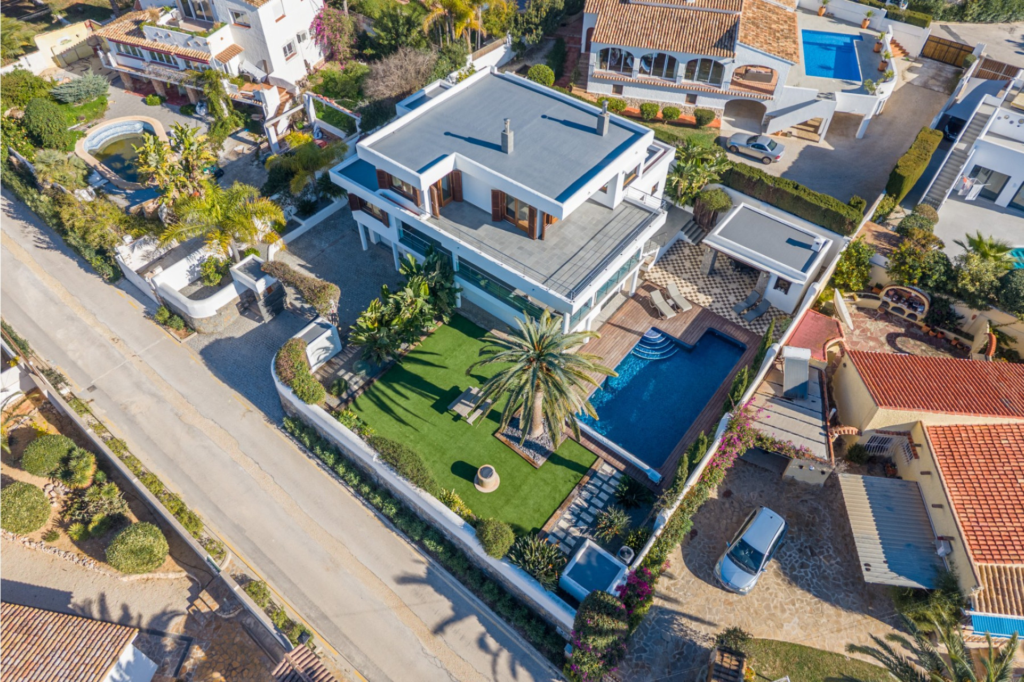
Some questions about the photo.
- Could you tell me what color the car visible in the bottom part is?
blue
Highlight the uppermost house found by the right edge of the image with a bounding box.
[922,86,1024,217]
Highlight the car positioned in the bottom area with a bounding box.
[716,498,793,594]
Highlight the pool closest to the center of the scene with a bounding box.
[573,306,749,467]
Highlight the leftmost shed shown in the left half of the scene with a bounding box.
[0,328,46,416]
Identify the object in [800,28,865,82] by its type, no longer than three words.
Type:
swimming pool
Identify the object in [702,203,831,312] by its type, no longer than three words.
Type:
building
